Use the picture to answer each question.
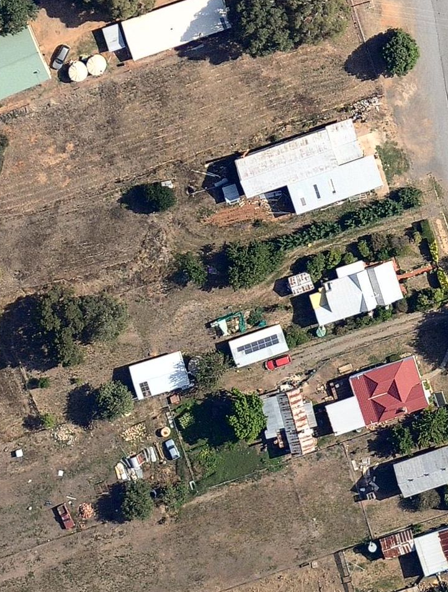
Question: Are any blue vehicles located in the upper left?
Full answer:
No, no blue vehicle appears in the upper left.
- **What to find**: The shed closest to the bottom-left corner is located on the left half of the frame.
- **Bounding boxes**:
[129,351,190,400]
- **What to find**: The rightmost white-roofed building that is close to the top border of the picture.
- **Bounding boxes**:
[121,0,230,60]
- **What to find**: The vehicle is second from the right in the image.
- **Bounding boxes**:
[165,437,180,462]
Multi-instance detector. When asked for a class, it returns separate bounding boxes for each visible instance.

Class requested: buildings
[289,272,313,295]
[414,526,448,577]
[229,324,289,368]
[102,23,125,51]
[310,261,404,326]
[235,119,383,214]
[223,184,240,204]
[381,529,415,559]
[0,27,50,99]
[121,0,230,60]
[129,351,190,400]
[393,445,448,498]
[263,388,318,457]
[326,357,431,436]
